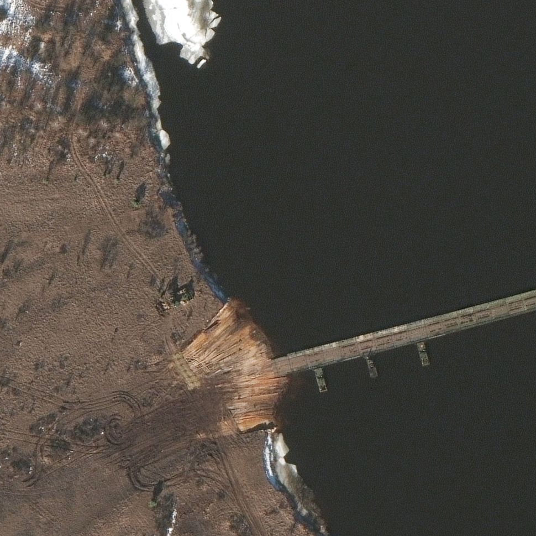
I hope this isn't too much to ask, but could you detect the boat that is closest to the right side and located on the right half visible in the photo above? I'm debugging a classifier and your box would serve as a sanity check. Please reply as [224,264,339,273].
[418,341,431,366]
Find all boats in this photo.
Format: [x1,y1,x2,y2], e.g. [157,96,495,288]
[367,356,378,378]
[314,368,327,393]
[418,341,431,366]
